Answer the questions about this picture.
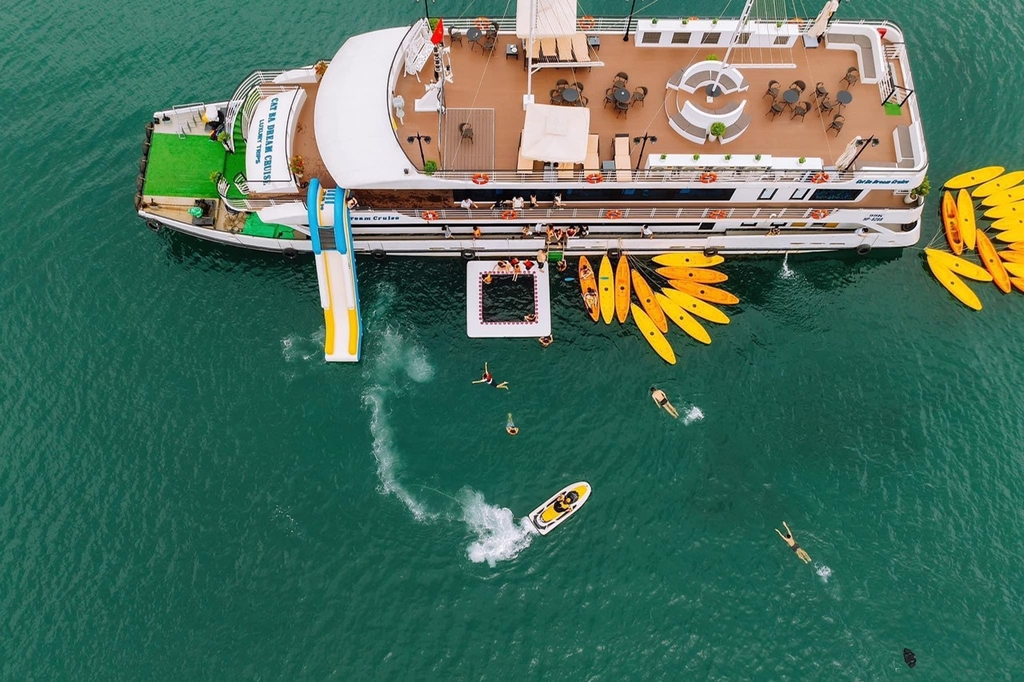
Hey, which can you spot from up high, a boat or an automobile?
boat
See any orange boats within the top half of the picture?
Yes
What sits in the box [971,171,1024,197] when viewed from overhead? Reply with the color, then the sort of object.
yellow boat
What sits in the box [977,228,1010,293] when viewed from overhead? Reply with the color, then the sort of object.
orange boat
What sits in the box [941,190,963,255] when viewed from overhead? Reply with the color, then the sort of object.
orange boat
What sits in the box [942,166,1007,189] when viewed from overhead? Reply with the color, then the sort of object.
yellow boat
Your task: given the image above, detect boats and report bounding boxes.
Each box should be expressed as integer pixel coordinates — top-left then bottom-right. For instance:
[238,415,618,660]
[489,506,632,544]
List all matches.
[1007,241,1024,251]
[1008,276,1024,295]
[941,190,963,255]
[981,184,1024,206]
[1002,262,1024,279]
[942,166,1007,189]
[990,215,1024,230]
[977,228,1010,293]
[662,287,730,324]
[615,255,632,323]
[926,254,982,310]
[971,171,1024,197]
[655,291,711,345]
[529,484,590,539]
[668,278,740,304]
[656,265,728,284]
[925,247,994,281]
[958,188,978,250]
[631,303,675,365]
[995,228,1024,242]
[998,248,1024,264]
[631,269,667,333]
[983,199,1024,218]
[652,253,725,267]
[598,255,615,324]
